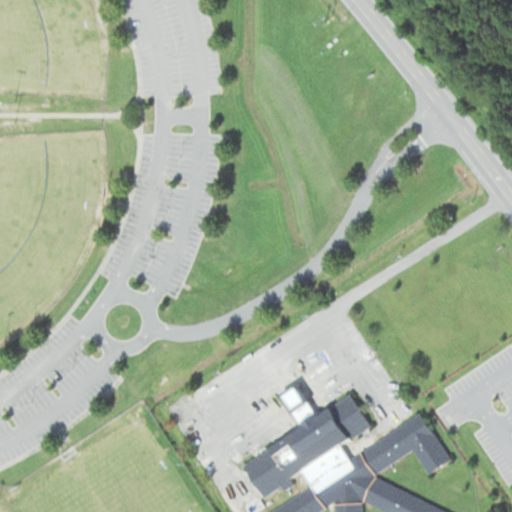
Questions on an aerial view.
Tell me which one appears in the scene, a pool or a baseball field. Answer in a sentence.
Of the two, only a baseball field appears.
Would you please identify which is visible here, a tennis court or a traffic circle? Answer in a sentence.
The image shows a traffic circle.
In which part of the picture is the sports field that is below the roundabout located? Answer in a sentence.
The sports field that is below the roundabout sits in the bottom left section of the image.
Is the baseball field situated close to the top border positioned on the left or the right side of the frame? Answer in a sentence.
The baseball field situated close to the top border sits on the left side.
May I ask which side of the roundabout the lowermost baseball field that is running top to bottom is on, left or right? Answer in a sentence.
The lowermost baseball field that is running top to bottom is to the left of the roundabout.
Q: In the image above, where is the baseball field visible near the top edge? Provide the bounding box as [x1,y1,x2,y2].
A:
[0,0,107,99]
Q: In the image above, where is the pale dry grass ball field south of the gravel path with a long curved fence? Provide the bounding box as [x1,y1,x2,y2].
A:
[0,130,106,346]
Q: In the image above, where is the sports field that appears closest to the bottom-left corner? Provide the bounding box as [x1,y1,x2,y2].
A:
[0,404,225,512]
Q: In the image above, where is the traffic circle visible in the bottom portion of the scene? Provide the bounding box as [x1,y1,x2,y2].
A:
[96,295,150,350]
